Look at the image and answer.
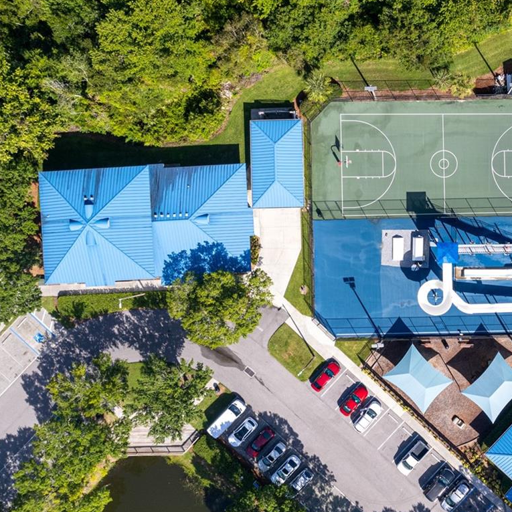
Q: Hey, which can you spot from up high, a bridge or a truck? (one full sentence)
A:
It is a truck that can be seen here.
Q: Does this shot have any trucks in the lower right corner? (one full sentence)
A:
Yes, a truck appears in the lower right corner.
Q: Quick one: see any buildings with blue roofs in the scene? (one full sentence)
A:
Yes, the frame does contain a building with a blue roof.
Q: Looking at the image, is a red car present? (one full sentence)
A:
Yes, the image includes a red car.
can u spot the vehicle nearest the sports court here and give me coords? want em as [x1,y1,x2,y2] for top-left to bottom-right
[311,362,341,393]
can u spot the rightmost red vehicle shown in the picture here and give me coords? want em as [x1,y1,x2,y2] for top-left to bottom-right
[340,386,369,417]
